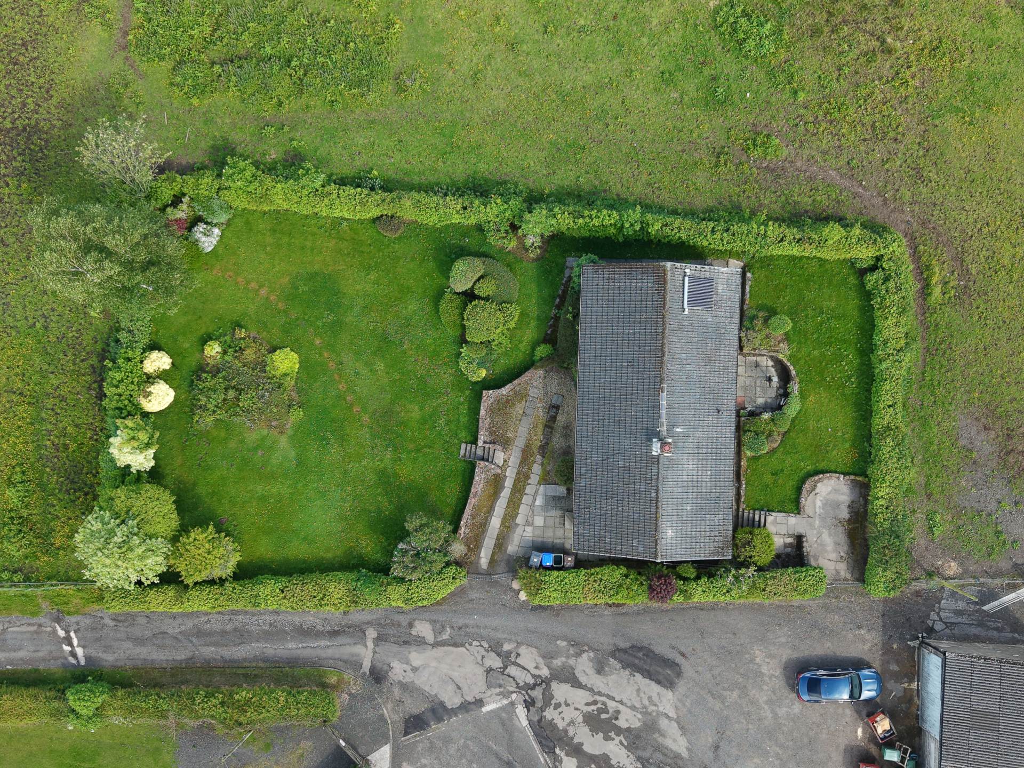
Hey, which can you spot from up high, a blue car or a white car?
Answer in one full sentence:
I can see a blue car in this picture.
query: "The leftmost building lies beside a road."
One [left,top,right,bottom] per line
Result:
[569,259,744,565]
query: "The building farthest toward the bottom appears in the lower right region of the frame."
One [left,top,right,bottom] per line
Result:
[916,636,1024,768]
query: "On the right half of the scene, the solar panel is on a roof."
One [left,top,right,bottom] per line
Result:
[684,266,712,315]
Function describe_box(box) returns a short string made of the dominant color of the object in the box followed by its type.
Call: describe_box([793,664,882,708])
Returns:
blue car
